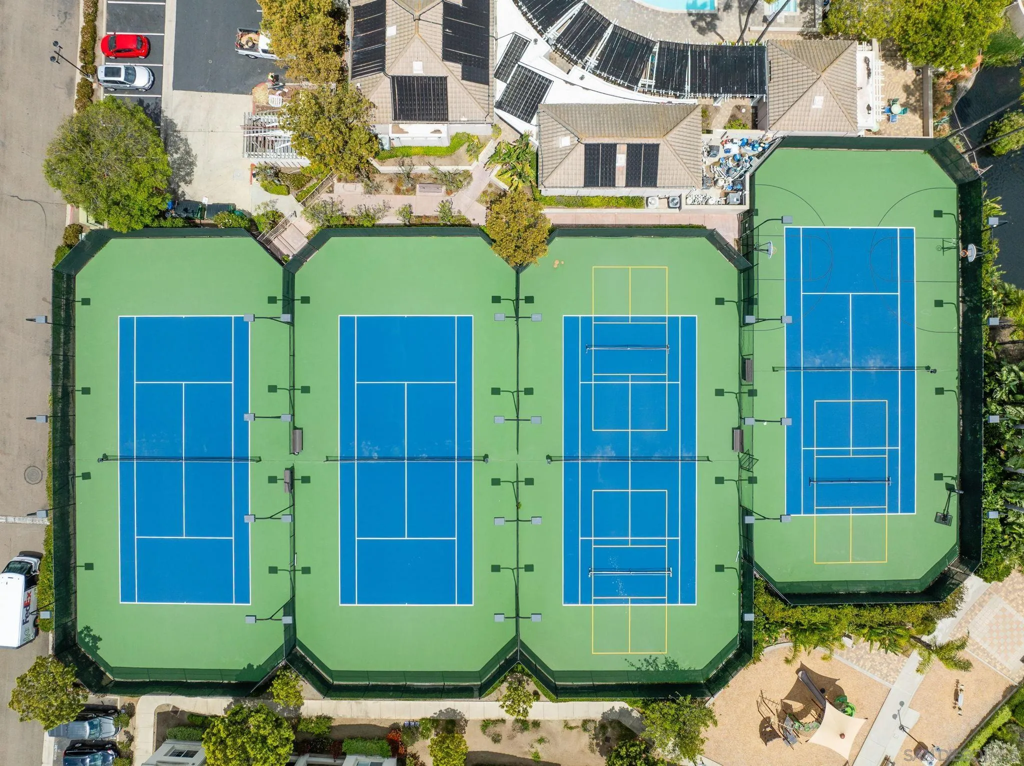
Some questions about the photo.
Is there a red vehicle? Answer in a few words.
Yes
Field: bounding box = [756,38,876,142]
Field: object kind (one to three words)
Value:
building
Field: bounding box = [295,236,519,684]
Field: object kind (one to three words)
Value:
tennis court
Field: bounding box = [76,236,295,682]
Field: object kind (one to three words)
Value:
tennis court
